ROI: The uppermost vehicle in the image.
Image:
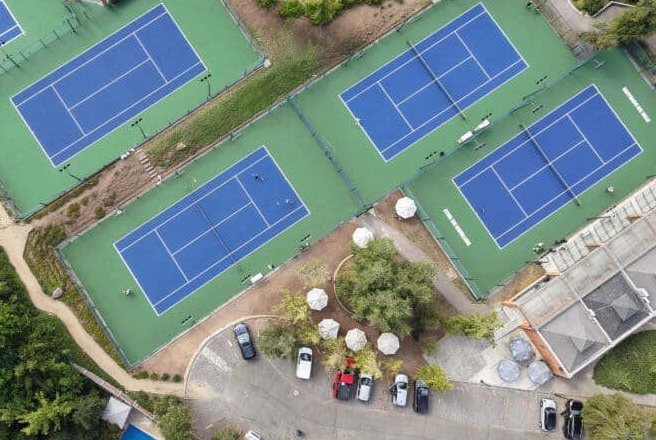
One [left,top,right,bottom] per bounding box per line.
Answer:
[234,322,256,361]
